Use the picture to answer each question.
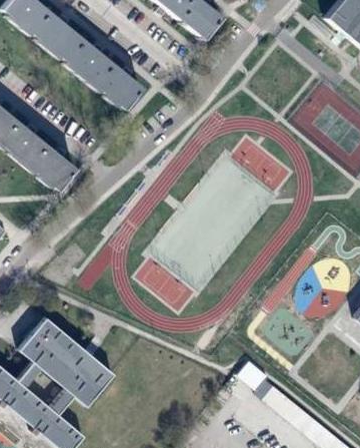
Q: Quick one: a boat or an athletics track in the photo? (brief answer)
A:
athletics track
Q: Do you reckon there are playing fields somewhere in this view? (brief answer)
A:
Yes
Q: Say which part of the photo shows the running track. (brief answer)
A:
center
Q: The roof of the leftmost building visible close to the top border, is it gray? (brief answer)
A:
Yes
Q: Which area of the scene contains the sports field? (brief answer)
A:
center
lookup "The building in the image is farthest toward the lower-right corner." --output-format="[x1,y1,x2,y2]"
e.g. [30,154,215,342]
[261,386,346,448]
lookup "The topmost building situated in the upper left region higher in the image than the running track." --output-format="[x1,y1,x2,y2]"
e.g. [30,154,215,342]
[0,0,147,112]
